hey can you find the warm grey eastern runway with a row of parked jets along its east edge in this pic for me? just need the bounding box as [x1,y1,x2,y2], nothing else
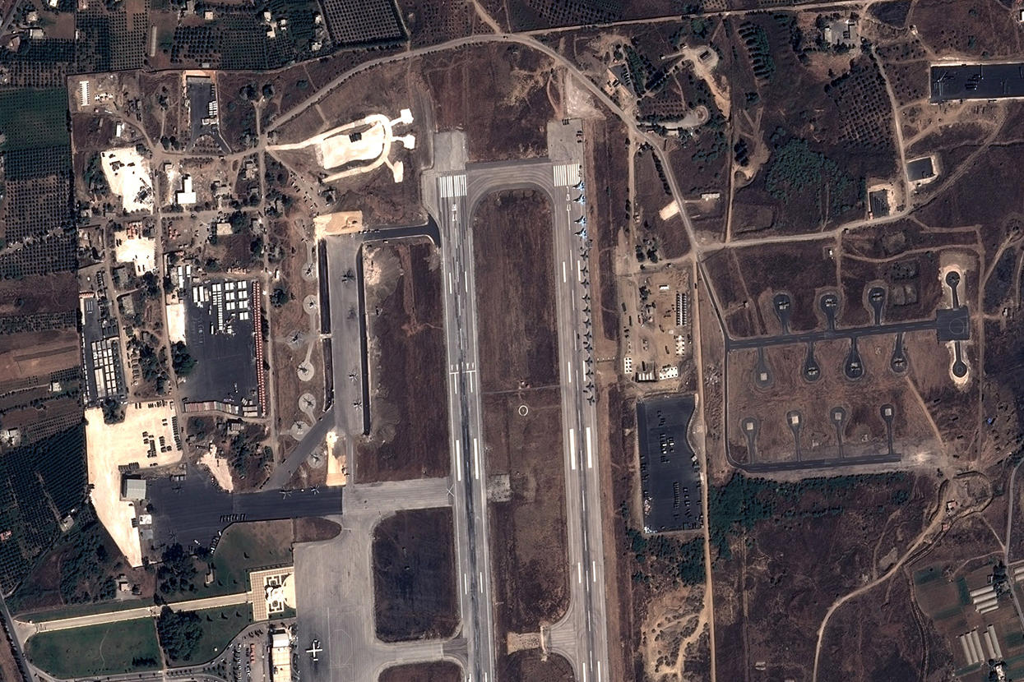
[553,163,609,682]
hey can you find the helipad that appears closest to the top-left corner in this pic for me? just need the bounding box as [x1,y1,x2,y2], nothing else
[302,241,317,278]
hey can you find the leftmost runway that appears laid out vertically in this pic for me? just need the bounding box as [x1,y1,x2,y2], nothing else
[438,167,495,682]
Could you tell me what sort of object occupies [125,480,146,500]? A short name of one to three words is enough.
hangar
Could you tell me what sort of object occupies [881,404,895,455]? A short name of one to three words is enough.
helipad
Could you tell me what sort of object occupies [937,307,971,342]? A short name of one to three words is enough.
helipad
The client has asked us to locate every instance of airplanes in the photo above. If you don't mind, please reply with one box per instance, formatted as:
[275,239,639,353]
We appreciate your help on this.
[581,319,594,328]
[583,369,597,379]
[578,251,591,261]
[580,306,593,315]
[579,266,592,276]
[576,229,588,238]
[575,196,587,204]
[581,332,595,341]
[579,294,593,303]
[584,396,598,405]
[582,344,595,353]
[581,279,592,288]
[583,357,596,366]
[574,184,586,193]
[305,643,324,658]
[583,382,597,391]
[578,218,588,227]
